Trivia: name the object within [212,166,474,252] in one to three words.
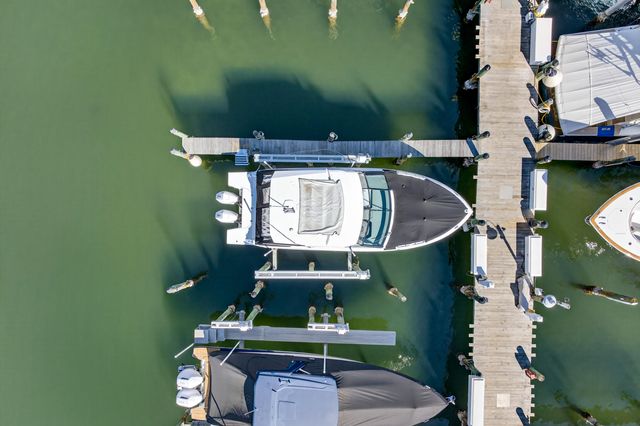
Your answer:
boat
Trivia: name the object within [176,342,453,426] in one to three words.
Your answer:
boat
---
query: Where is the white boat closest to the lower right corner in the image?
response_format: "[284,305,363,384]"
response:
[584,181,640,264]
